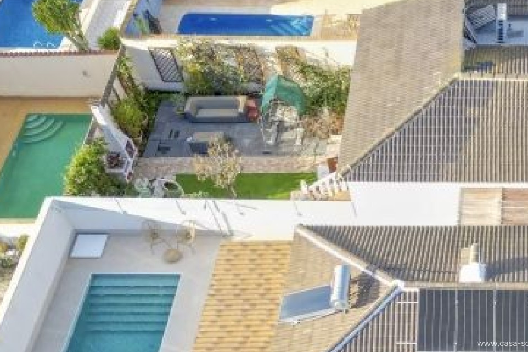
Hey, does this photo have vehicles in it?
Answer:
No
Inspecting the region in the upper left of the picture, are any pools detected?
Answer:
Yes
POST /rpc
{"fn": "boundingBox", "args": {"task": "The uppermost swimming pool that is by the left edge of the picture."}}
[0,0,90,51]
